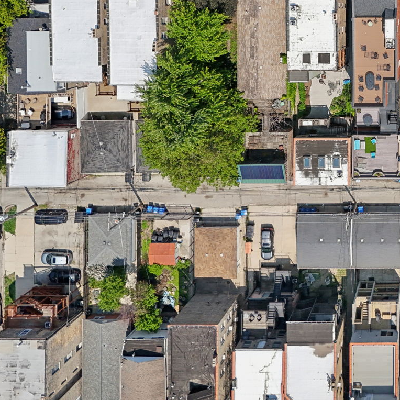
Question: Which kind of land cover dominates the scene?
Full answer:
The scene is dominated by buildings.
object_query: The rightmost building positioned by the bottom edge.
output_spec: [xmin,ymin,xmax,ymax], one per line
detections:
[350,316,400,400]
